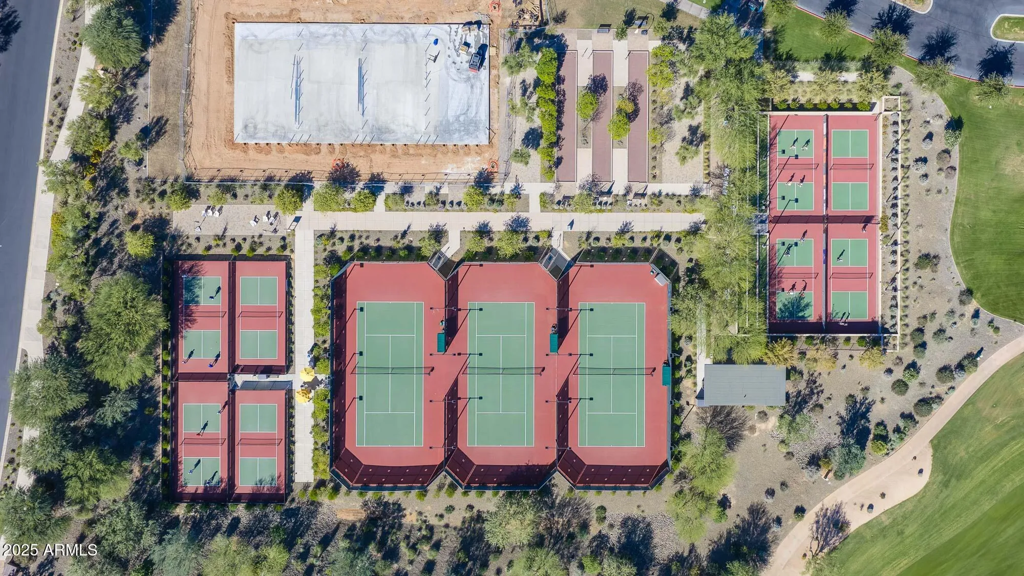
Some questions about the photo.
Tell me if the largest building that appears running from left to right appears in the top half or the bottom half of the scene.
bottom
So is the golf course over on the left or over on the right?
right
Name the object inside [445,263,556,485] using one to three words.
tennis court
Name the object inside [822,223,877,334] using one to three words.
sports court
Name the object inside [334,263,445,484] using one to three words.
tennis court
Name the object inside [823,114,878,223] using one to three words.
sports court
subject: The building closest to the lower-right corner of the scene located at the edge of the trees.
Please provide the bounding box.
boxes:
[690,361,786,407]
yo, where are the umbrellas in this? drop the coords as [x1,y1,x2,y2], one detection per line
[300,367,317,383]
[298,387,311,402]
